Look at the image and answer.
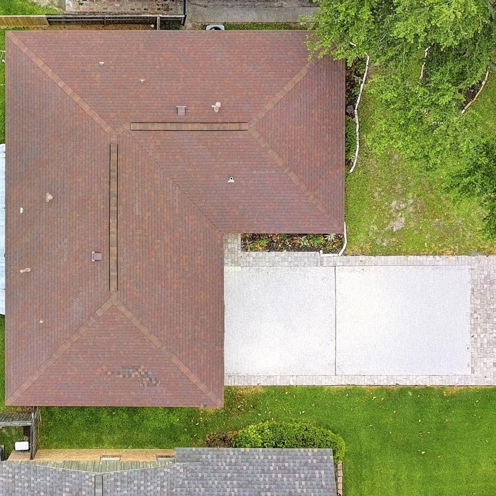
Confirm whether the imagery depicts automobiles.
No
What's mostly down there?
buildings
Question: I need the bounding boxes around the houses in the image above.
[0,443,337,496]
[3,28,347,408]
